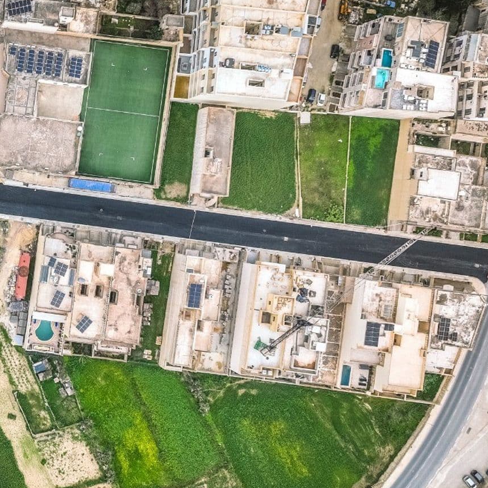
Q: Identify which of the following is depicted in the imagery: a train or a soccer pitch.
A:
soccer pitch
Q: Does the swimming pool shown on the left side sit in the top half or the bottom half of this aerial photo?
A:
bottom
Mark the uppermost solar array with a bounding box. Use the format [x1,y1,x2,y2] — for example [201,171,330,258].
[6,0,33,13]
